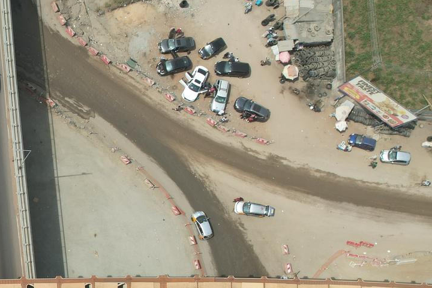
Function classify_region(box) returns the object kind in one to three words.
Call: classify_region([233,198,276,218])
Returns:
car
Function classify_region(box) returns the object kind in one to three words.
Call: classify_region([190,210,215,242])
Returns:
car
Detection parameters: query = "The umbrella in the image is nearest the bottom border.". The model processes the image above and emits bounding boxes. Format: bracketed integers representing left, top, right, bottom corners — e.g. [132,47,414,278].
[330,119,348,132]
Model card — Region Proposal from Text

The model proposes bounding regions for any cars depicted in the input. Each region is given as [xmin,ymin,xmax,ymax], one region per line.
[182,63,212,104]
[154,54,194,76]
[213,60,251,79]
[343,133,379,153]
[197,35,230,61]
[231,98,273,124]
[233,198,276,218]
[156,30,197,57]
[209,79,232,114]
[378,148,412,165]
[190,210,215,242]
